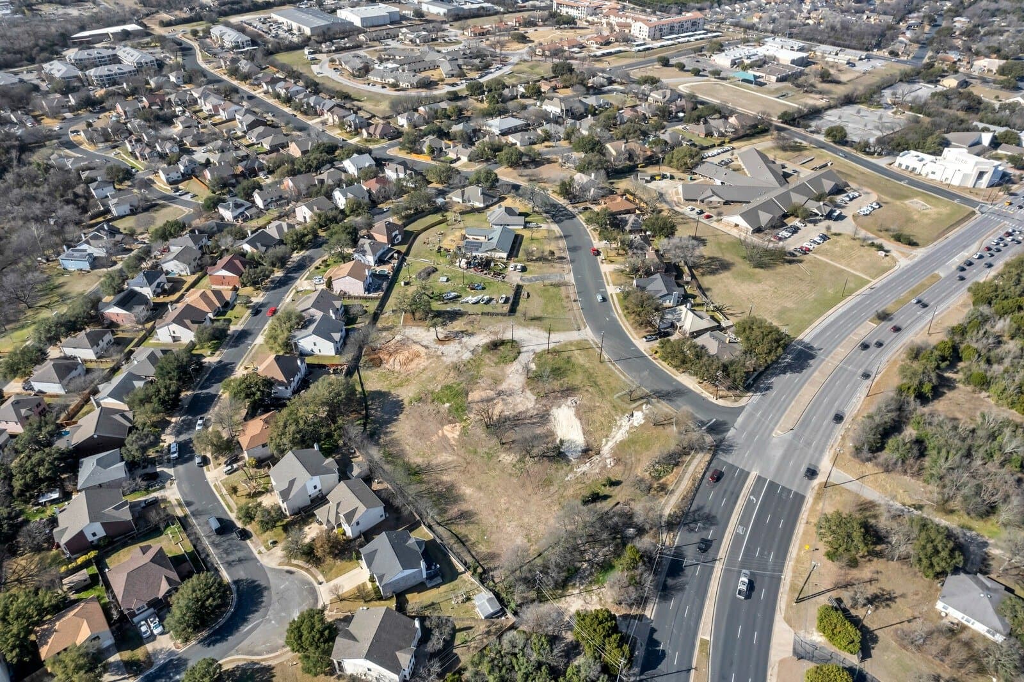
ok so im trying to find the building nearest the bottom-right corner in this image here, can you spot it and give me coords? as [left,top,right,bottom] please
[936,569,1013,640]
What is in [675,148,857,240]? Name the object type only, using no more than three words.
building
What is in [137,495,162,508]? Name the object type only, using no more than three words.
vehicle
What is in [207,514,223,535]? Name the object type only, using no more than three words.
vehicle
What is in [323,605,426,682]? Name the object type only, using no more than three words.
house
